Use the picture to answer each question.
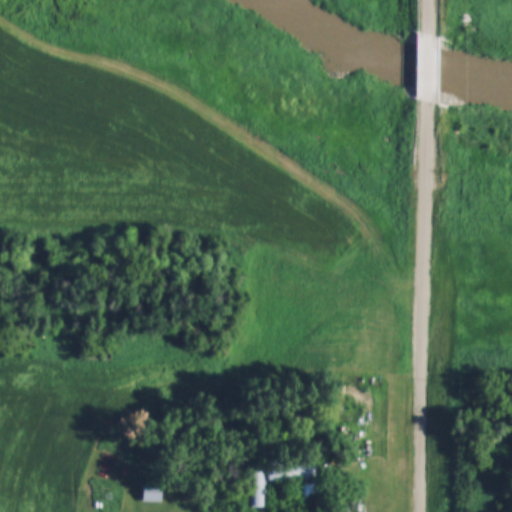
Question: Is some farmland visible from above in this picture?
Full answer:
Yes, some farmland is visible.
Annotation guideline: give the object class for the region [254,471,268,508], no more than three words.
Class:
house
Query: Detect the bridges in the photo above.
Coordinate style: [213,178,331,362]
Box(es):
[418,32,441,105]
